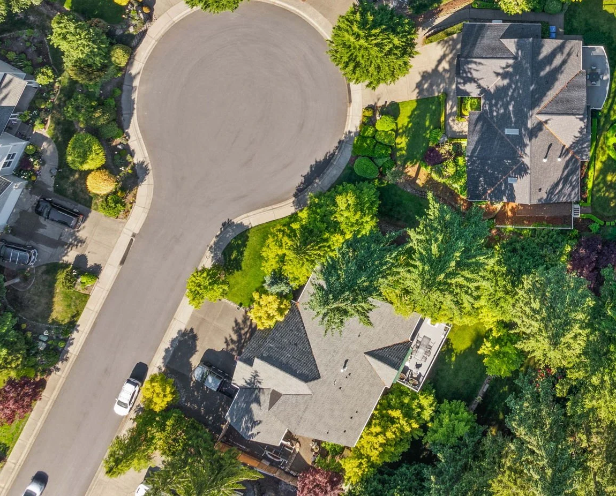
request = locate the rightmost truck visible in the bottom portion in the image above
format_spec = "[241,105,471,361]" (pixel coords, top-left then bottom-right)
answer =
[190,359,239,397]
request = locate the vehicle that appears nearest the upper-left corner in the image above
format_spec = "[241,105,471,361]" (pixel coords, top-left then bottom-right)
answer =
[34,196,85,231]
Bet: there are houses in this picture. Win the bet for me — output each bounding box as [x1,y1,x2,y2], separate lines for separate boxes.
[217,259,426,448]
[455,19,591,205]
[0,60,28,229]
